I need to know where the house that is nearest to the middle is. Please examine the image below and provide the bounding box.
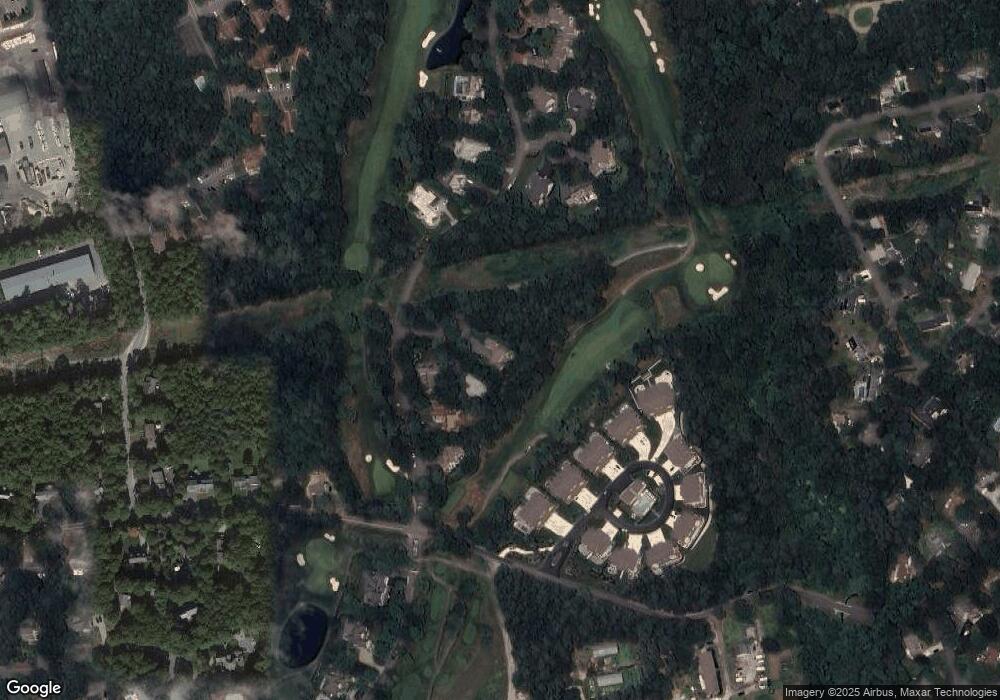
[483,334,513,367]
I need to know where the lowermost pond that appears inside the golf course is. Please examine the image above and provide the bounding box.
[279,604,327,669]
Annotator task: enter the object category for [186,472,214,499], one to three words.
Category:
house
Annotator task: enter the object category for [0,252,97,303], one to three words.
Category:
building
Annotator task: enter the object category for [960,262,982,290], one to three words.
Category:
barn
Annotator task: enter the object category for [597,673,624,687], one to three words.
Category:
shed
